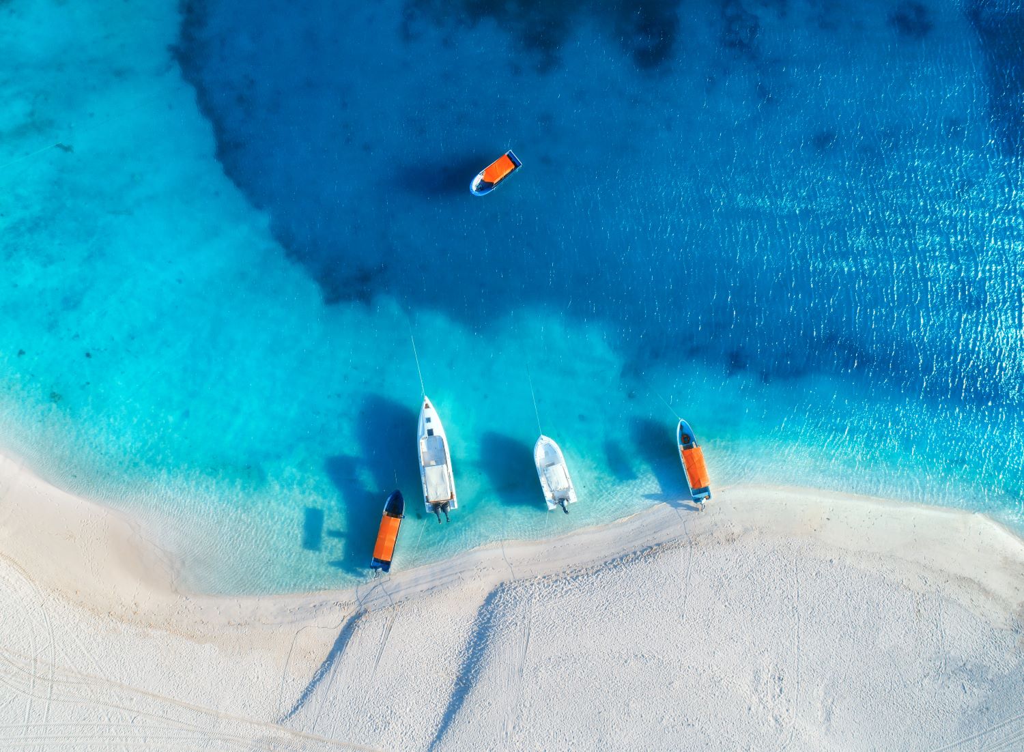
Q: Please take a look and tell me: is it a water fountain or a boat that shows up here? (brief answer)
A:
boat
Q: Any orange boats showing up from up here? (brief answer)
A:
Yes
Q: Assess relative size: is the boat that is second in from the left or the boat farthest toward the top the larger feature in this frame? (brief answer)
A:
the boat that is second in from the left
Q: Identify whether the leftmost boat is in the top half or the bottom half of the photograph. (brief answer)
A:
bottom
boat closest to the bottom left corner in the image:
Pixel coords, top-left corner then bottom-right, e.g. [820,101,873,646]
[371,489,403,576]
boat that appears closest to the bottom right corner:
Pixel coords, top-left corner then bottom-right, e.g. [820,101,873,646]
[677,419,712,508]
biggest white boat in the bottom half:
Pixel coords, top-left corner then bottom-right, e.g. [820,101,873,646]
[416,395,457,521]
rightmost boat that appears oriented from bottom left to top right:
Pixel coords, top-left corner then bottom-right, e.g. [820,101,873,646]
[470,150,523,196]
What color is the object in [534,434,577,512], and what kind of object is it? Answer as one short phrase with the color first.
white boat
